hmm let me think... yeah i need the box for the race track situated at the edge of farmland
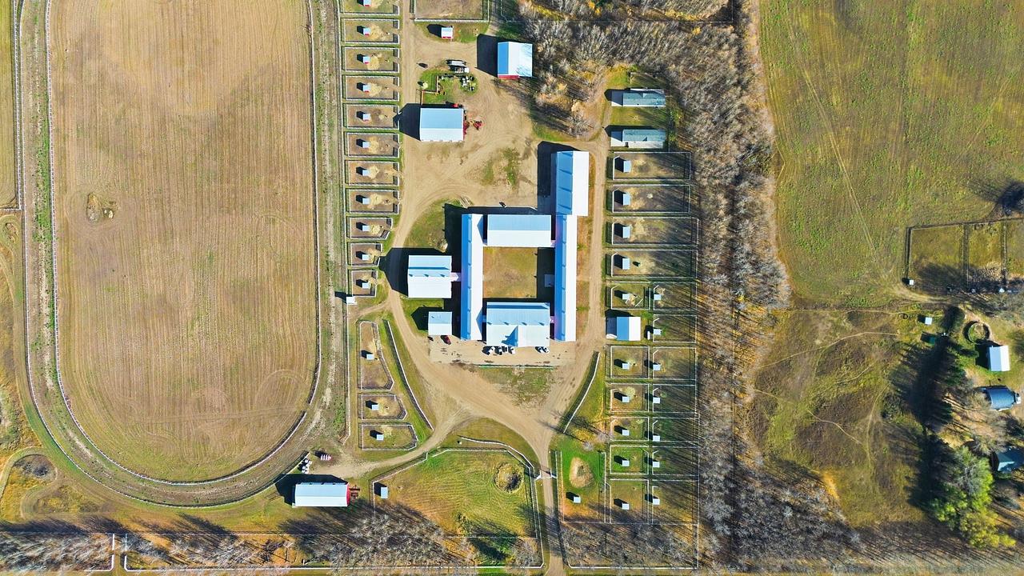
[21,0,349,509]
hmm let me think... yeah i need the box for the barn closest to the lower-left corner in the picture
[293,482,350,507]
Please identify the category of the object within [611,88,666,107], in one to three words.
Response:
house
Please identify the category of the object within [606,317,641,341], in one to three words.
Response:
shed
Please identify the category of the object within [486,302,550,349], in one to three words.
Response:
barn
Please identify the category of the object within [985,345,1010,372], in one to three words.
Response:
building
